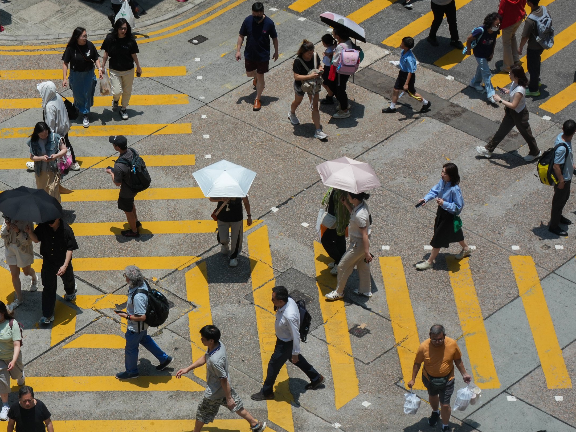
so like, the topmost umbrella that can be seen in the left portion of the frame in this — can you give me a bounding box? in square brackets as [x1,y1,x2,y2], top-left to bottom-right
[191,159,257,195]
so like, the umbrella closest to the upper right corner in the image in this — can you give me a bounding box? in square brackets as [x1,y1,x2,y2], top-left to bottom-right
[316,21,374,44]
